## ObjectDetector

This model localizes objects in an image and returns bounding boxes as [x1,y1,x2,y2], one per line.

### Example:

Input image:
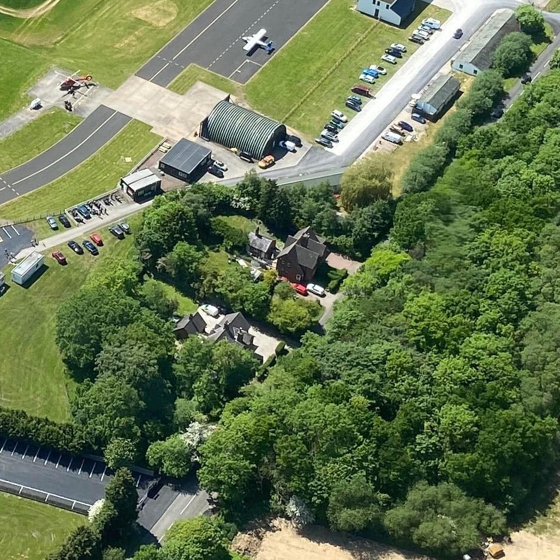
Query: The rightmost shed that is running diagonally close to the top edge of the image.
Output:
[454,9,526,75]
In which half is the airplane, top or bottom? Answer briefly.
top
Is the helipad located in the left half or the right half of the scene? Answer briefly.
left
